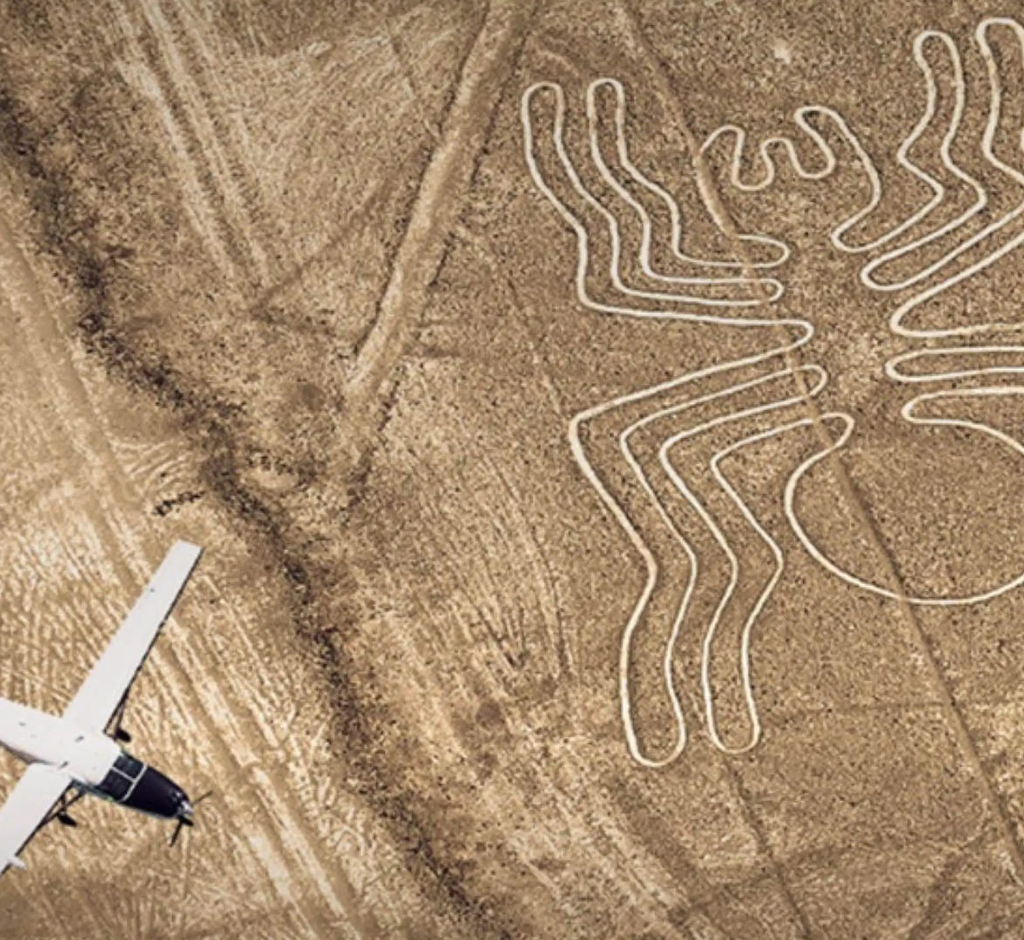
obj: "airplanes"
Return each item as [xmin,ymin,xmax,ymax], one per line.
[0,540,214,876]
